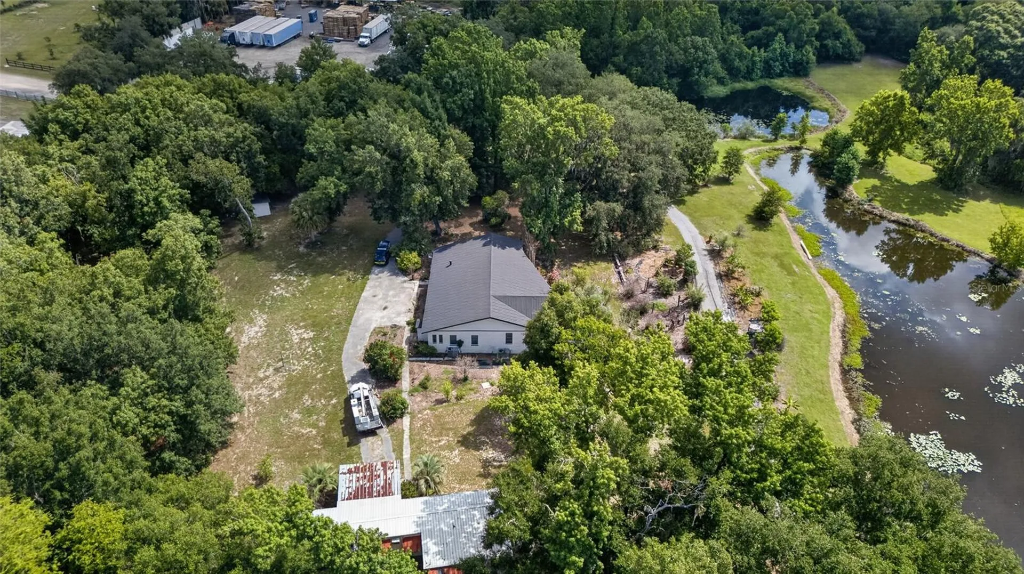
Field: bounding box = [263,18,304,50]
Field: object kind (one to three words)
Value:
trailer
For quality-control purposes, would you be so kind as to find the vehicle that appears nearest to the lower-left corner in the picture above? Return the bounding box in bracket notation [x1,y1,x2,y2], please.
[354,377,387,435]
